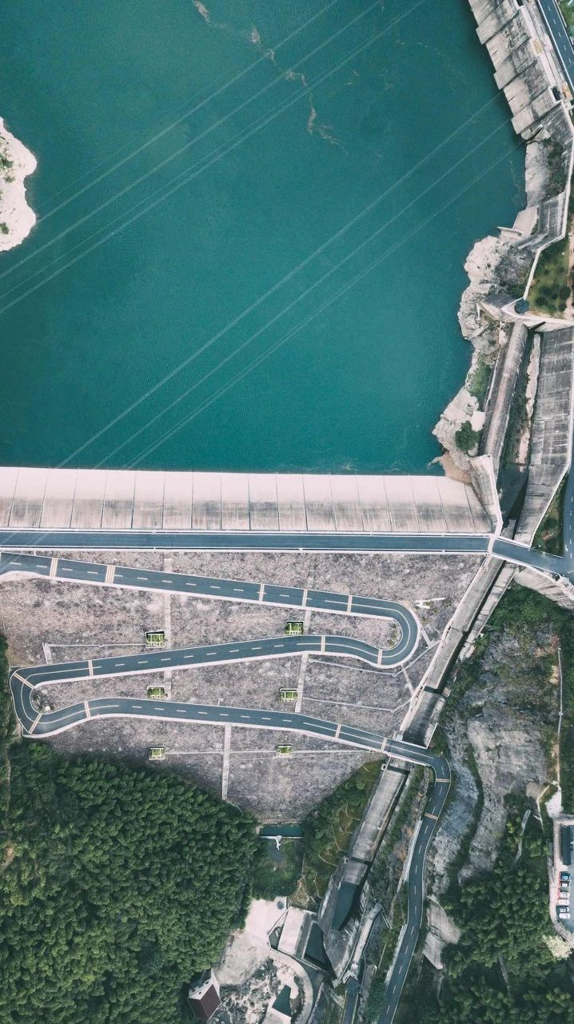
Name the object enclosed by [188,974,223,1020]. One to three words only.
house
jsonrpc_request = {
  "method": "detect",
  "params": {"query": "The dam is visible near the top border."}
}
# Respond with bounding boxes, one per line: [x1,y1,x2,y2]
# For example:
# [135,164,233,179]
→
[466,0,574,135]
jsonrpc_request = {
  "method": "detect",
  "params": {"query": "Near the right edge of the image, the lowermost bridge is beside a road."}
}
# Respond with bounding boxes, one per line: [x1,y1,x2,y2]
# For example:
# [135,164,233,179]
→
[487,536,574,602]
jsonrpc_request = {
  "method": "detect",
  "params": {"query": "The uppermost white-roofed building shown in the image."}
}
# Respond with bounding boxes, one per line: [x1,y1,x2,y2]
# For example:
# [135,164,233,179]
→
[277,900,330,975]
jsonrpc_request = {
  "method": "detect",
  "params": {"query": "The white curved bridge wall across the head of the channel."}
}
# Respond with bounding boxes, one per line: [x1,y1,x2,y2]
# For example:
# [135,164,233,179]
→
[478,293,574,333]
